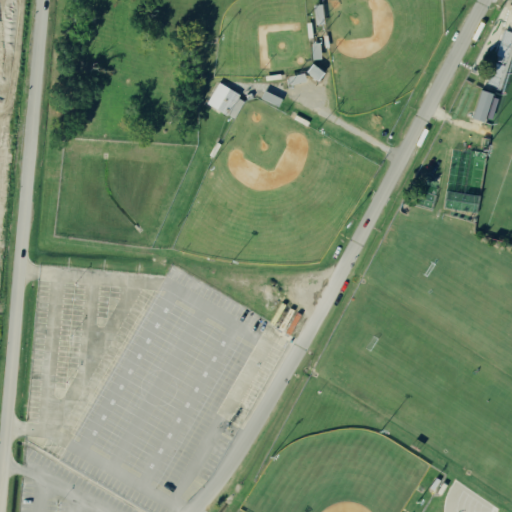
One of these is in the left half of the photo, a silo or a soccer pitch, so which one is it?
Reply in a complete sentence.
The feature located in the left half of the photo is a soccer pitch.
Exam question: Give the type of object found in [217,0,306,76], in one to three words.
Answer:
baseball field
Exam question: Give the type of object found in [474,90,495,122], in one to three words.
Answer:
building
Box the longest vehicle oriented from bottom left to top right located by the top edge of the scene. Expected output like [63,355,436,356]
[472,22,486,42]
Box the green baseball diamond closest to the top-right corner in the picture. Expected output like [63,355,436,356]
[328,0,442,114]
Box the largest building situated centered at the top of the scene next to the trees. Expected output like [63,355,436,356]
[208,82,240,115]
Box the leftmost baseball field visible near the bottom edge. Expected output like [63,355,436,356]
[242,430,430,512]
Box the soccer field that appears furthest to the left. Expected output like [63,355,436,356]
[56,140,196,246]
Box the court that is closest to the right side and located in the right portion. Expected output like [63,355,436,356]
[444,149,488,214]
